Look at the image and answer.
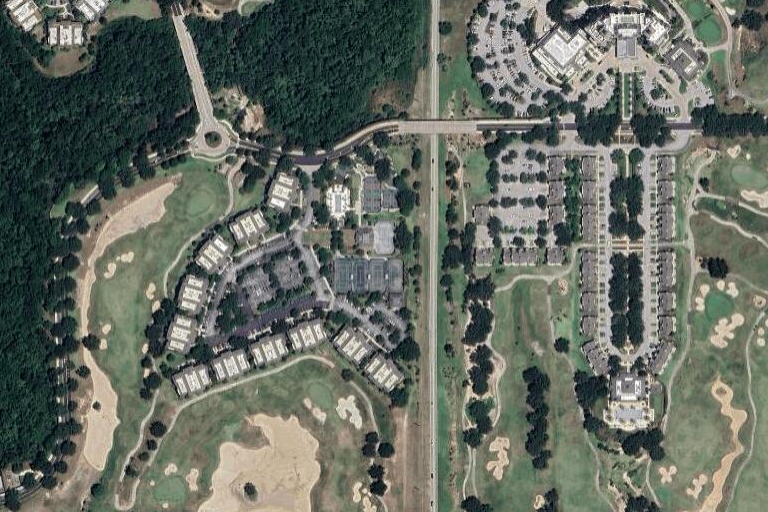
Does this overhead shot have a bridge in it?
Yes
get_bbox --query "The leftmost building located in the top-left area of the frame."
[6,0,41,31]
